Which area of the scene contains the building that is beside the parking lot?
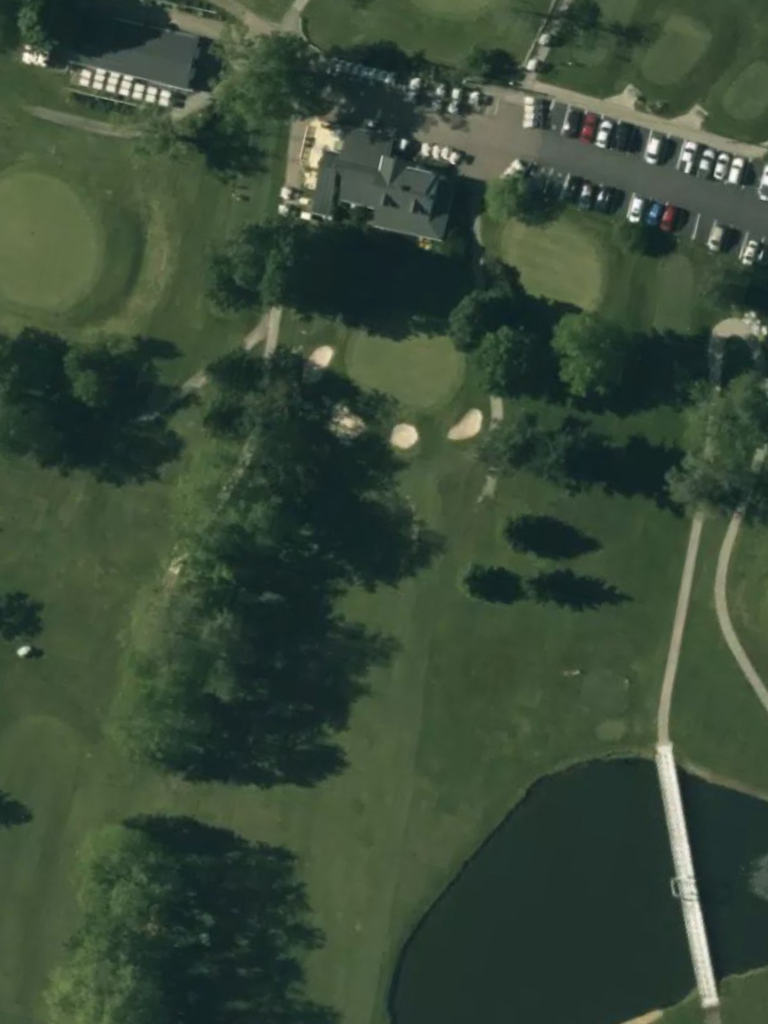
top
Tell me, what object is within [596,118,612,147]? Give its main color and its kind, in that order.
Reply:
white car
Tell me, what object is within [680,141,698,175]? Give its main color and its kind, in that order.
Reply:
white vehicle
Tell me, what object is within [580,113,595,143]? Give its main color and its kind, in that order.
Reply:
red car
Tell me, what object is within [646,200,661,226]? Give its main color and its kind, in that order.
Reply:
blue car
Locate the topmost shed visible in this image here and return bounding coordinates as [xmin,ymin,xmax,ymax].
[70,9,199,92]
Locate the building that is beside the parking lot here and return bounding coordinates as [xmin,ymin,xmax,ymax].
[312,128,455,242]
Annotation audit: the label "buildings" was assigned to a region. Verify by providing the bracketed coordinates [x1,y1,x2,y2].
[70,9,199,92]
[312,128,455,242]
